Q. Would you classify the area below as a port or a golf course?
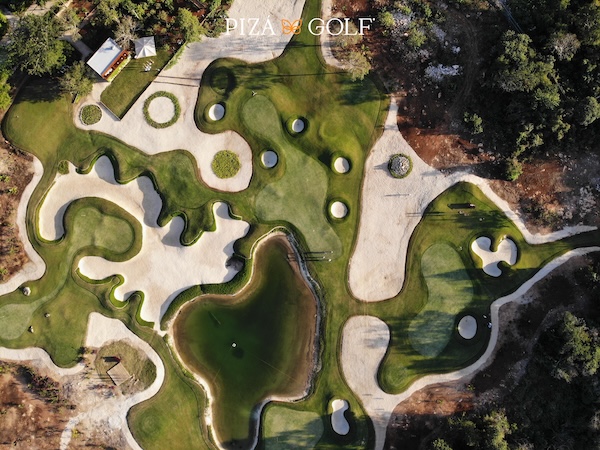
golf course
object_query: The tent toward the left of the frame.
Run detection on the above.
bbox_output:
[134,37,159,61]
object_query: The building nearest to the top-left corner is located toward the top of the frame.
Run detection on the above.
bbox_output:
[84,36,131,83]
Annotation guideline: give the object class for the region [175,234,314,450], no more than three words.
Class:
pond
